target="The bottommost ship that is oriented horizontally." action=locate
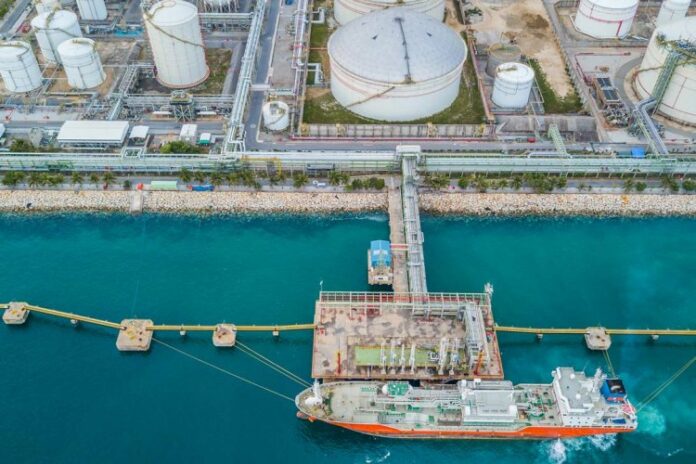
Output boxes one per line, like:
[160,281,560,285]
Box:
[294,353,639,438]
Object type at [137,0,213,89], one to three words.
storage tank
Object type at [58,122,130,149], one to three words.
shed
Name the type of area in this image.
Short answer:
industrial area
